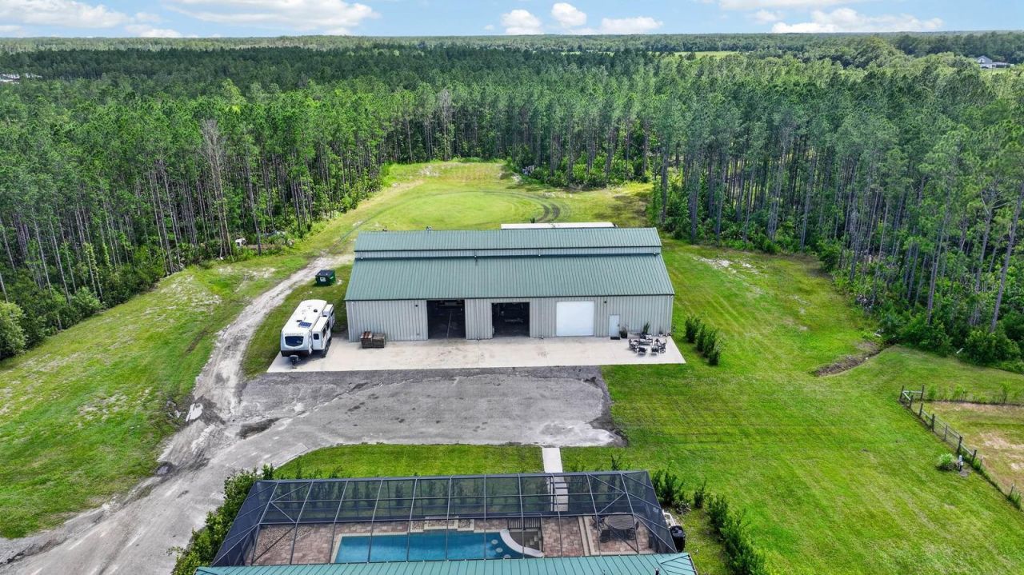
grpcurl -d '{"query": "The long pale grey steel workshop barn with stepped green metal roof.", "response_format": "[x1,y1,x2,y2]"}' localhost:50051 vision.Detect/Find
[343,226,676,342]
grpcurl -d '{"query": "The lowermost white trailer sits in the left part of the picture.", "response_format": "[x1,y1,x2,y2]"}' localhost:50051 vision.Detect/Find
[283,302,337,368]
